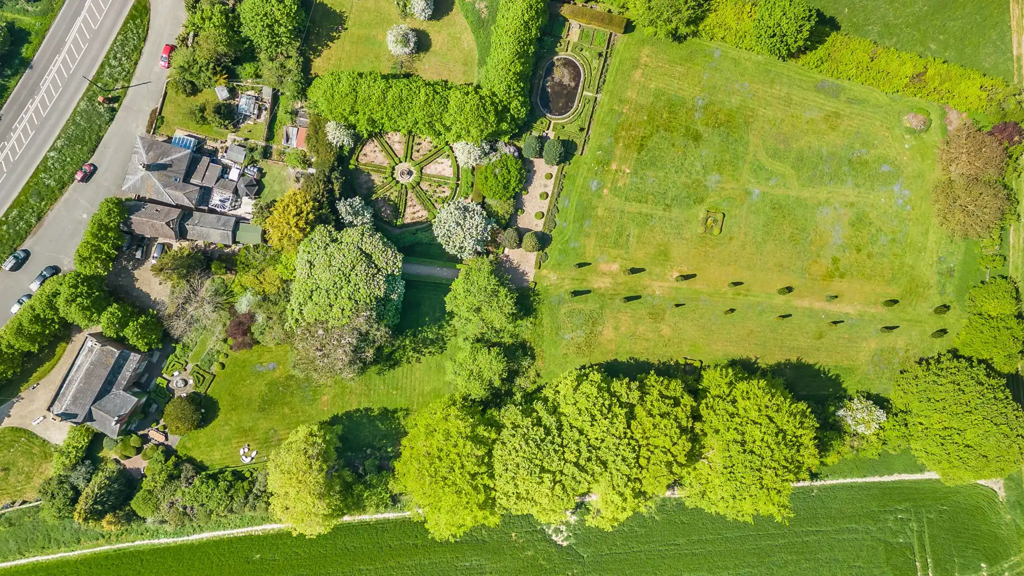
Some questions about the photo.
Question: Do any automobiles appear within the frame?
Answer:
Yes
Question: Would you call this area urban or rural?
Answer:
rural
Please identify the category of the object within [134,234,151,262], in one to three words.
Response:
vehicle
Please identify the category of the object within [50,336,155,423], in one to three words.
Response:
house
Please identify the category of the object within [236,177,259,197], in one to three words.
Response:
gazebo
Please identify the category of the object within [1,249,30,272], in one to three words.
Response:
car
